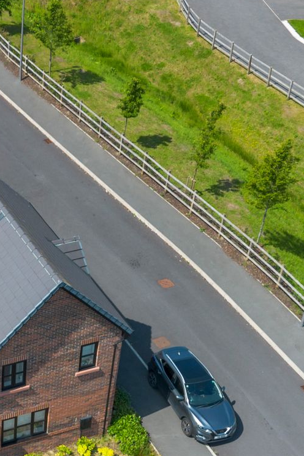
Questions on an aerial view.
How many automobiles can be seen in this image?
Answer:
one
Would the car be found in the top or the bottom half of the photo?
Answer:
bottom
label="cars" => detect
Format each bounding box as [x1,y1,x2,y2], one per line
[146,342,245,444]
